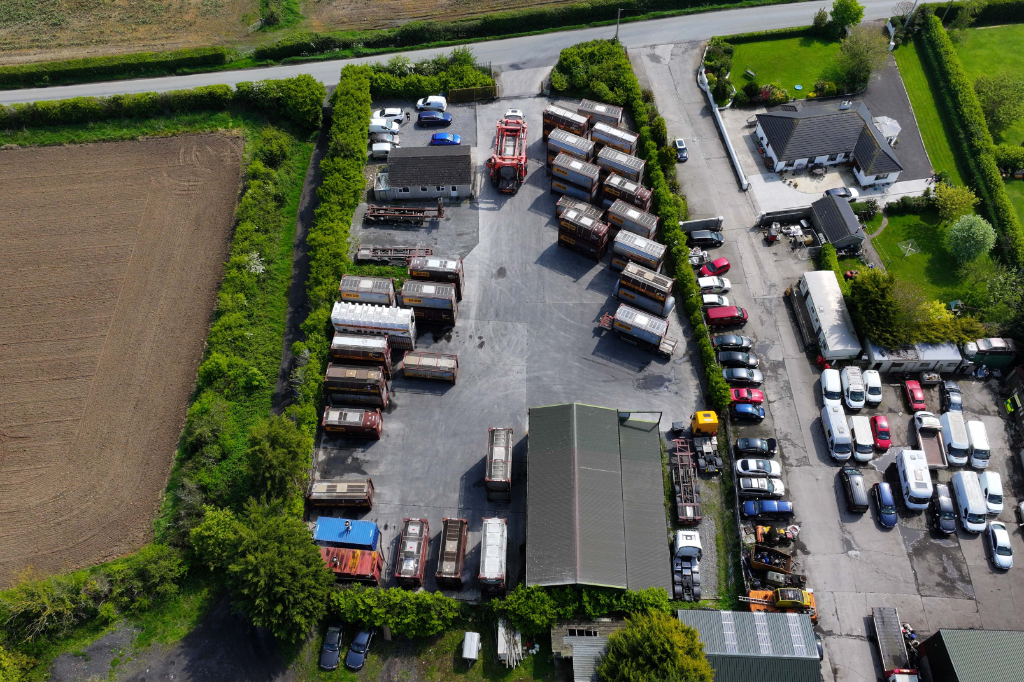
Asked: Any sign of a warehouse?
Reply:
Yes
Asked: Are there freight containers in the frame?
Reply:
Yes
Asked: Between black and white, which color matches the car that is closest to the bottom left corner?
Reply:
black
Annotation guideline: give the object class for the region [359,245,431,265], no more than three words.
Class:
trailer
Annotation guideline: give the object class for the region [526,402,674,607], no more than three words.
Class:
warehouse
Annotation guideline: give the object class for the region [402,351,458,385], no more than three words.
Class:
shipping container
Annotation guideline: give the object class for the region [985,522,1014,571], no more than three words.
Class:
car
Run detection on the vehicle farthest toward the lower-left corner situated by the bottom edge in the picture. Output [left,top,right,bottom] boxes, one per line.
[318,622,345,673]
